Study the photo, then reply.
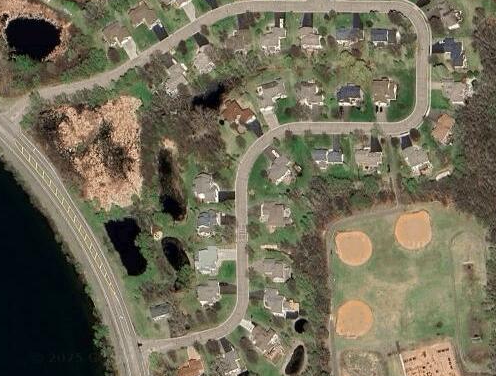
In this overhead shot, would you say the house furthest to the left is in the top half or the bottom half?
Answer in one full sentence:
The house furthest to the left is in the top half of the image.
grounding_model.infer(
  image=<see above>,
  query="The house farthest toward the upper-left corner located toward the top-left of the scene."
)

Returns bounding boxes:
[102,20,134,47]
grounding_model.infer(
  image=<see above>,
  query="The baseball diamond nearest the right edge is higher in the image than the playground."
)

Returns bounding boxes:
[394,209,432,249]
